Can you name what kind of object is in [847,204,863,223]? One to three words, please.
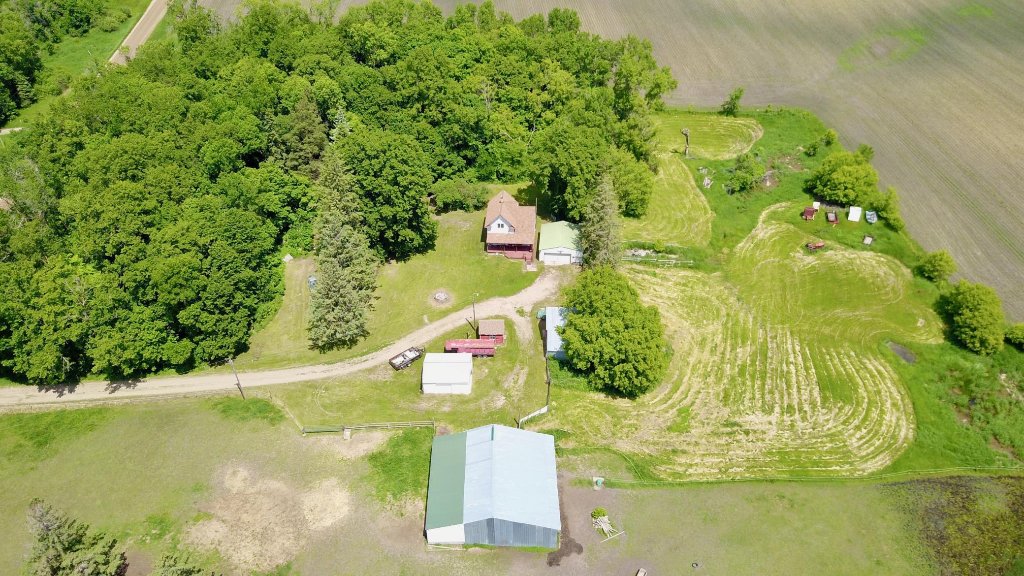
vehicle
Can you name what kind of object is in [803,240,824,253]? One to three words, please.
vehicle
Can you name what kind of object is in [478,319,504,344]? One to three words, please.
shed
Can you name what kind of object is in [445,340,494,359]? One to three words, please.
trailer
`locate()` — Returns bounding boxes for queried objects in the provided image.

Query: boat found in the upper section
[866,210,878,224]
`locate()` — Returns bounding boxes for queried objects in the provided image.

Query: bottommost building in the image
[425,423,559,545]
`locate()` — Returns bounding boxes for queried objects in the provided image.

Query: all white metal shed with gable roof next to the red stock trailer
[421,352,473,394]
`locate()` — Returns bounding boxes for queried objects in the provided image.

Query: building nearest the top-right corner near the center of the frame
[539,218,585,262]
